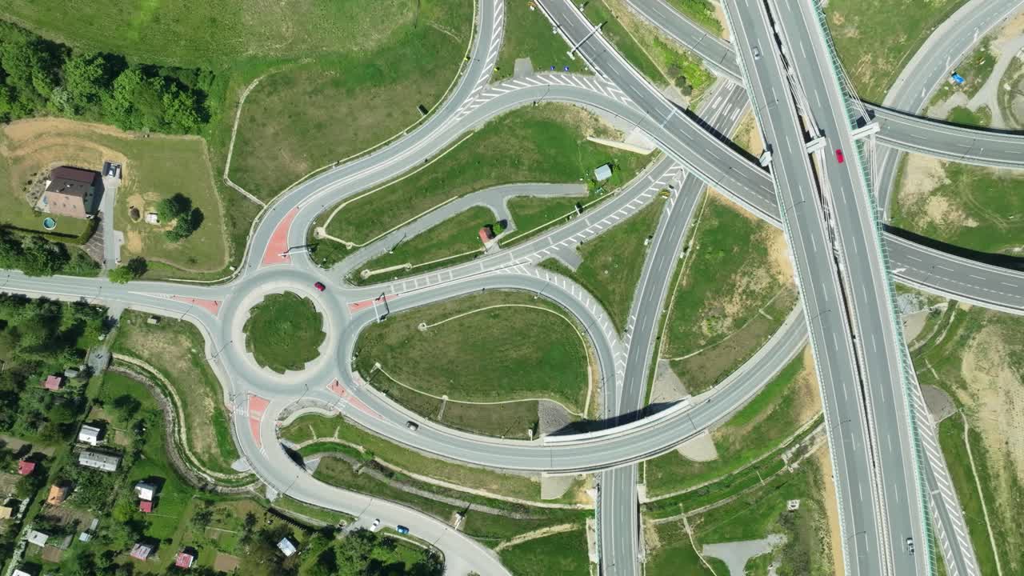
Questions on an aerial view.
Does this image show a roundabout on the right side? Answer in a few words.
No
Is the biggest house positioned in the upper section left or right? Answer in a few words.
left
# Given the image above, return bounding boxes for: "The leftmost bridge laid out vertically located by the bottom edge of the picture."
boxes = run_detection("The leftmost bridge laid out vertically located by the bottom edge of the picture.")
[597,487,639,576]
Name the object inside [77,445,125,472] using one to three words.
shed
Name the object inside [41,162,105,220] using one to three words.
house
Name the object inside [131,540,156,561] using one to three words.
house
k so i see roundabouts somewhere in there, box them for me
[215,263,352,401]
